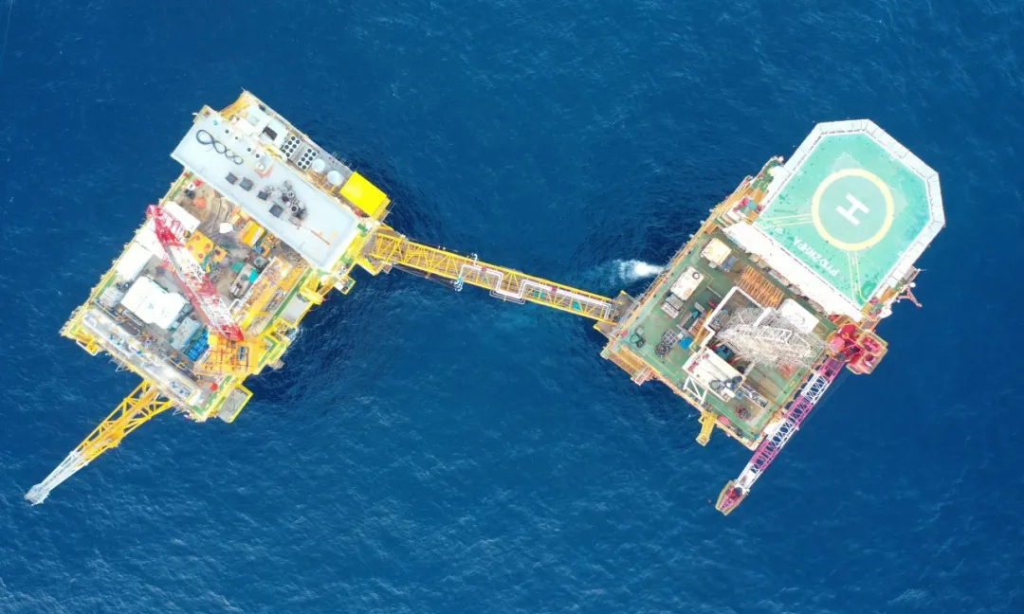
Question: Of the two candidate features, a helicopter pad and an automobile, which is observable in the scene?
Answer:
helicopter pad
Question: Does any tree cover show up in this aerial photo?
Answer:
No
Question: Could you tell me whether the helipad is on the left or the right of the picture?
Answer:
right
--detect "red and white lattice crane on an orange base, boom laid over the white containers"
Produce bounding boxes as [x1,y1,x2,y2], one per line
[147,206,261,378]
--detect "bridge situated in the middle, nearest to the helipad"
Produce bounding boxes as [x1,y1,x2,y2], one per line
[371,232,619,324]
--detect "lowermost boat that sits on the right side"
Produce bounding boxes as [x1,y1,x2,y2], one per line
[875,306,894,319]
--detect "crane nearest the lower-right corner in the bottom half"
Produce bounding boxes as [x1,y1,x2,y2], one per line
[714,324,892,517]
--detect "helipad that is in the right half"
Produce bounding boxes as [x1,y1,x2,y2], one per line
[749,118,945,315]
